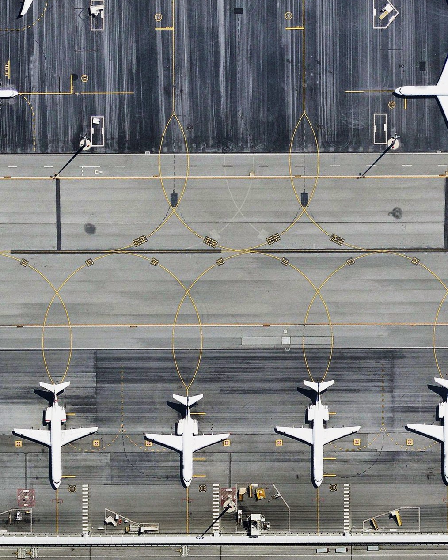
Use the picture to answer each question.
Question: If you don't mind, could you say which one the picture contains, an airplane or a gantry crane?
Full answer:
It is an airplane that can be seen here.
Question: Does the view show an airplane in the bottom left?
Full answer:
Yes, an airplane can be seen in the bottom left.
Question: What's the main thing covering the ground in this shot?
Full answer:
For the most part, this view shows paved ground.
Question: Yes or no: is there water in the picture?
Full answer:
No, no water is visible.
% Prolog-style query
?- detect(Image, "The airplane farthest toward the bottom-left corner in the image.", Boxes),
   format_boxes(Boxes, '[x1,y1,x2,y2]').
[13,381,98,489]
